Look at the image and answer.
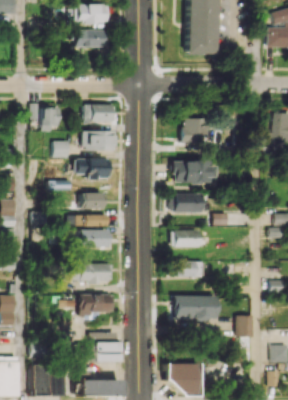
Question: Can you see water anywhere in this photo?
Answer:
No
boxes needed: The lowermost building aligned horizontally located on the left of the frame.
[84,379,126,396]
